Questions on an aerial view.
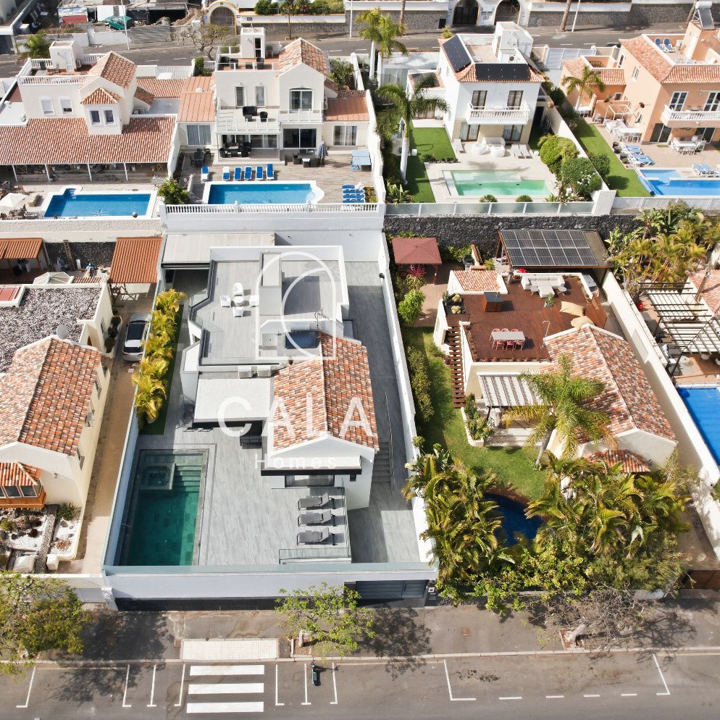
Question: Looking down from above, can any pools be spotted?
Yes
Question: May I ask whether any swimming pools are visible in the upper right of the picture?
Yes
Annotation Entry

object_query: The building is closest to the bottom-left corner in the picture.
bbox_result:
[0,284,114,506]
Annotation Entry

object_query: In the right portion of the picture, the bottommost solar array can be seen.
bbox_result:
[503,230,595,265]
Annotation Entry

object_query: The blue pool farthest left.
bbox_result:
[38,186,156,216]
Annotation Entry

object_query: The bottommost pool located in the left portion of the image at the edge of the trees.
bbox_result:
[121,447,211,573]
